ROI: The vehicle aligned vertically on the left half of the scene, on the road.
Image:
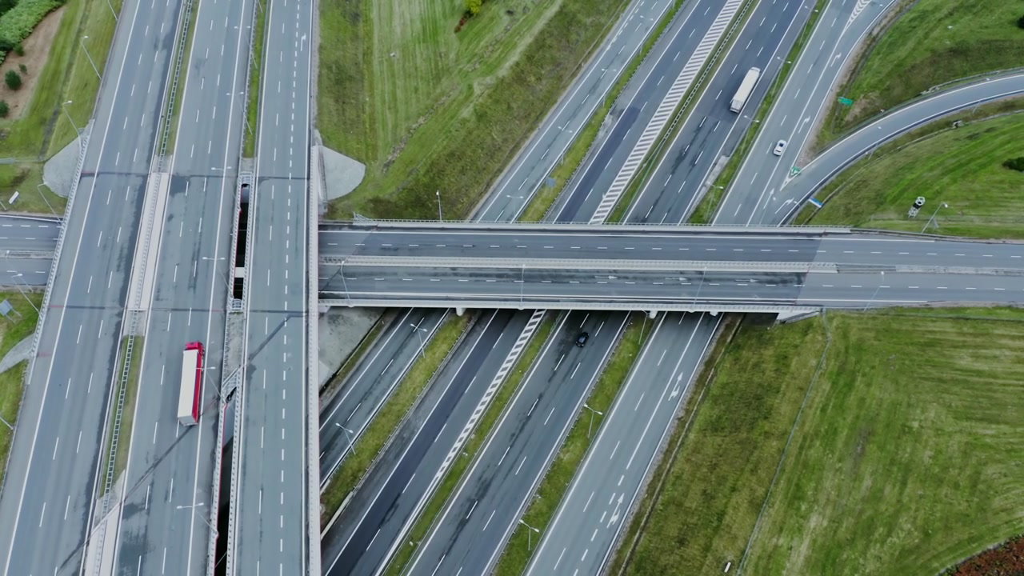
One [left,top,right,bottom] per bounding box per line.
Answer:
[179,339,207,426]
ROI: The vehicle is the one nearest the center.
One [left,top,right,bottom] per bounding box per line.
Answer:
[574,332,589,350]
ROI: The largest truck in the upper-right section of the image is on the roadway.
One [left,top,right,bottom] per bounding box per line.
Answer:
[730,67,762,113]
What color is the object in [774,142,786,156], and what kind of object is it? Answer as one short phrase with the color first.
white vehicle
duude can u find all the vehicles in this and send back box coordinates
[774,142,786,156]
[730,67,762,113]
[574,332,589,350]
[179,339,207,426]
